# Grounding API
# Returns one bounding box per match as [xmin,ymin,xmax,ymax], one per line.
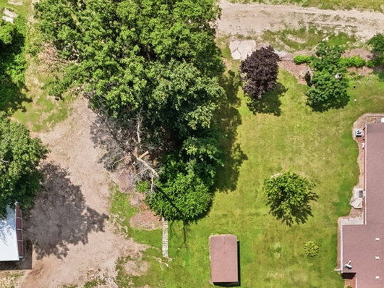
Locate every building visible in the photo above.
[0,199,25,261]
[209,234,239,283]
[341,123,384,288]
